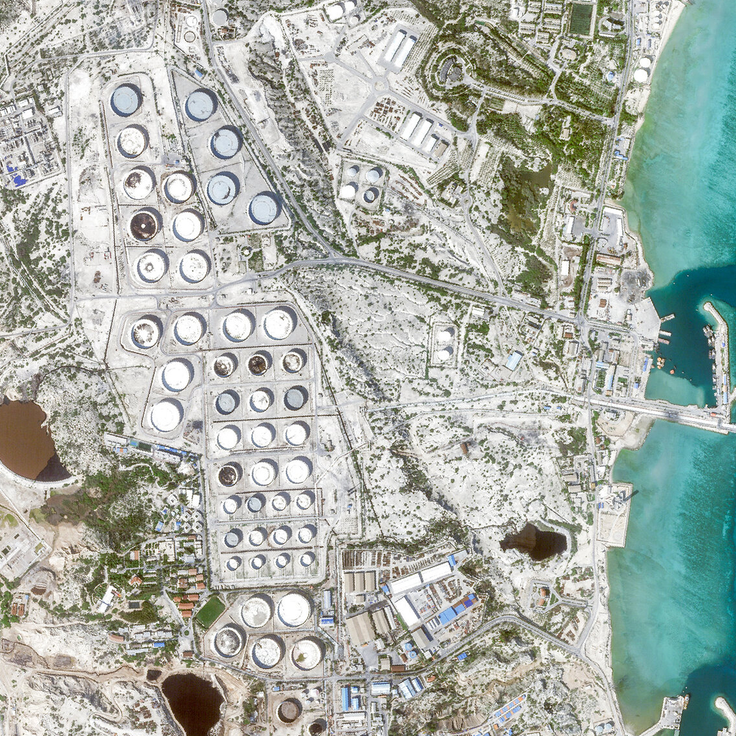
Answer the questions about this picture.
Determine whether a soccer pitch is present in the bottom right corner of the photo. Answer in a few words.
No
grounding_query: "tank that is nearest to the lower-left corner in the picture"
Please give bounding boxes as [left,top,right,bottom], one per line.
[211,627,244,659]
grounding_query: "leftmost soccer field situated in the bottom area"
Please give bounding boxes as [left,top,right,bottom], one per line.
[193,593,227,630]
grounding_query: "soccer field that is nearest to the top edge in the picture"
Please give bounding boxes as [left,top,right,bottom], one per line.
[571,2,594,35]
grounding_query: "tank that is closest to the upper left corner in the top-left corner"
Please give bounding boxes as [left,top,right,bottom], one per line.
[109,85,141,117]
